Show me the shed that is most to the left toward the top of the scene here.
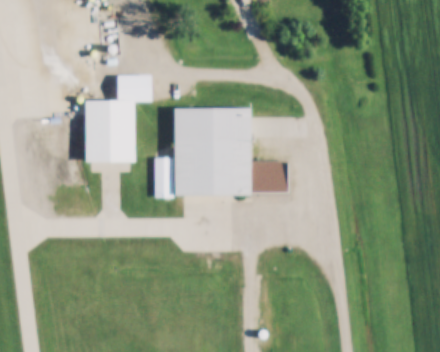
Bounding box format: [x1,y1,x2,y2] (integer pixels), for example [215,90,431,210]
[84,75,151,162]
